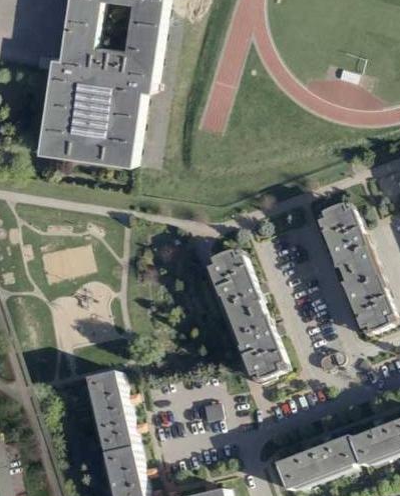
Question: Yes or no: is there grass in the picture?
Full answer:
Yes, there is grass in the image.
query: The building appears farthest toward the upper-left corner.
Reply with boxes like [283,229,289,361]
[37,0,173,174]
